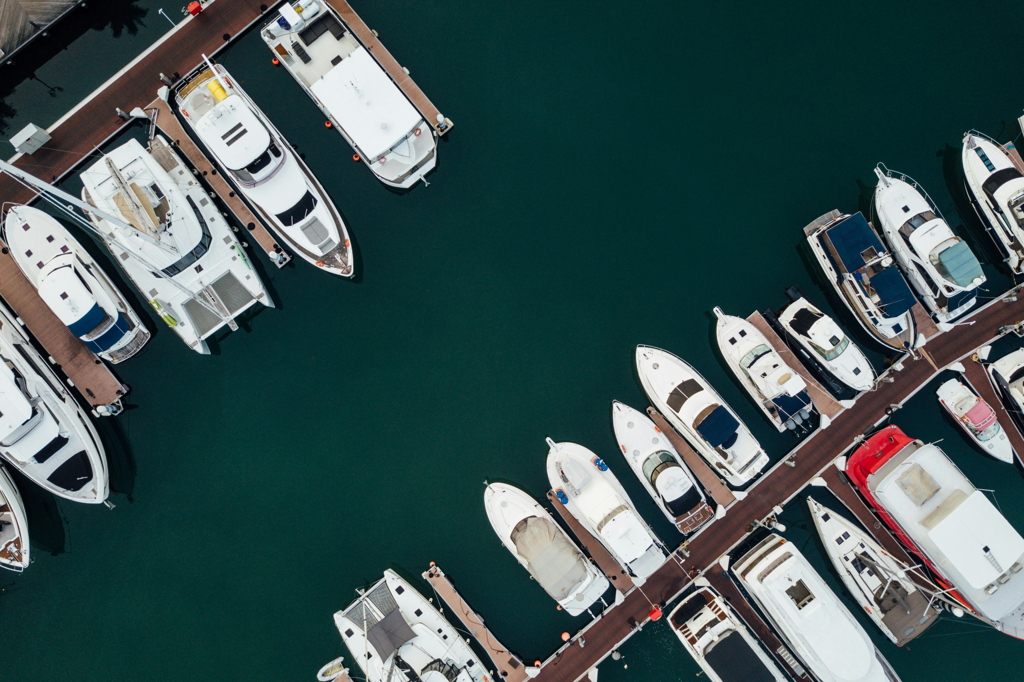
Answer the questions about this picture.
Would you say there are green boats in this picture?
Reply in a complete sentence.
Yes, the frame does contain a green boat.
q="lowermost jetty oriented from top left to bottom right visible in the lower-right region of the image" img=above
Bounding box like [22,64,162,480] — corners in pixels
[693,554,812,682]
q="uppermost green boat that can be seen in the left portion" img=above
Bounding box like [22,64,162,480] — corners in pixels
[234,242,252,270]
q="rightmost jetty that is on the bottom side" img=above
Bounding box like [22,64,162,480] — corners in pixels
[944,345,1024,480]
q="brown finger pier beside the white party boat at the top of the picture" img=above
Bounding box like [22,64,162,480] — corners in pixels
[326,0,455,138]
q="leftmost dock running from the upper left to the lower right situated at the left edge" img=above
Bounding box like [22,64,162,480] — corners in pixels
[0,236,130,416]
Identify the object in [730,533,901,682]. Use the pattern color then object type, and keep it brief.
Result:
white boat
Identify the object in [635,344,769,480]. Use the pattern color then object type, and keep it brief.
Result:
white boat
